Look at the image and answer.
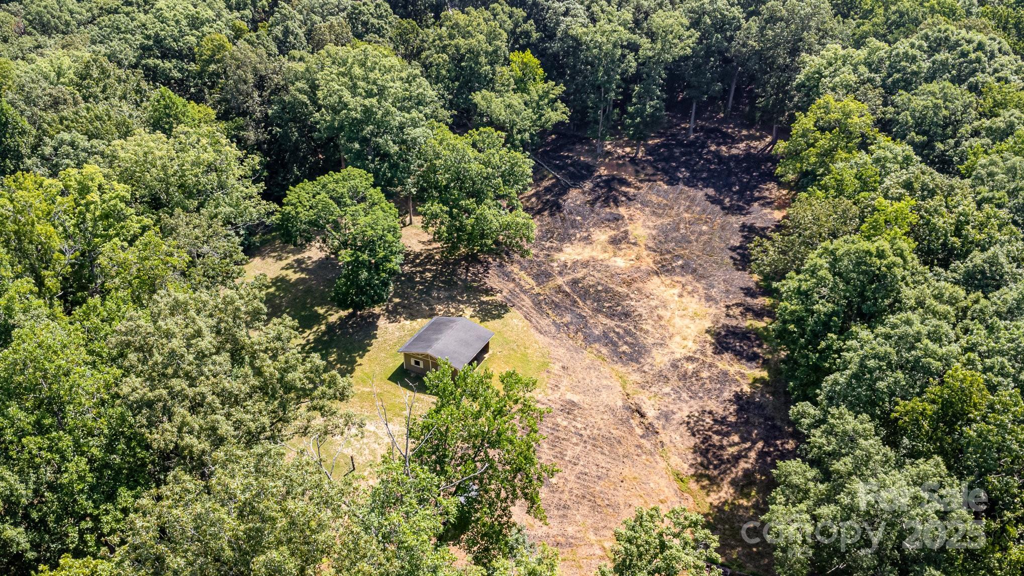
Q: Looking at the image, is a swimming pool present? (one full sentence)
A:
No, no swimming pool can be seen from above.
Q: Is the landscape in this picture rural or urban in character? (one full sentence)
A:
From above, the setting appears rural.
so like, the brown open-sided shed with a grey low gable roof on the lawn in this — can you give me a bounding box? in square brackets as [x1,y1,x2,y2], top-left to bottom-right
[398,316,494,386]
